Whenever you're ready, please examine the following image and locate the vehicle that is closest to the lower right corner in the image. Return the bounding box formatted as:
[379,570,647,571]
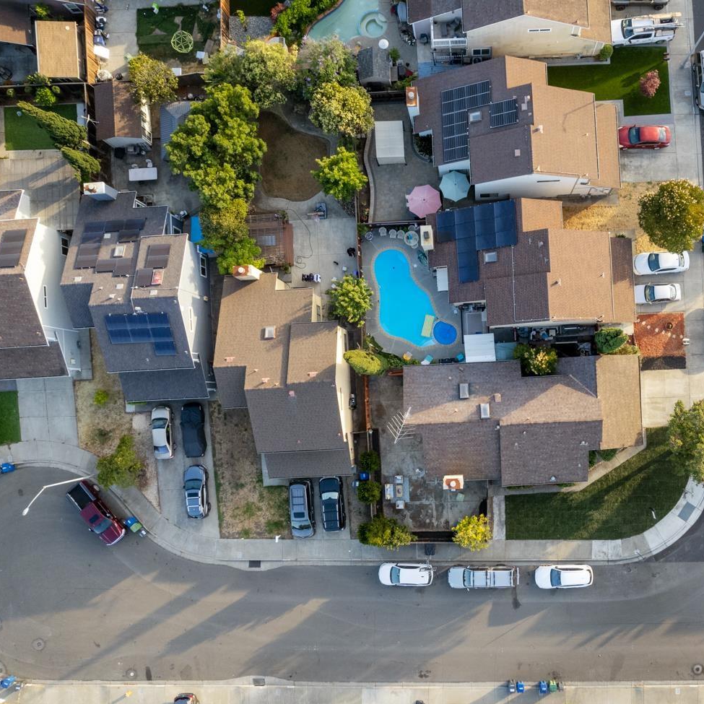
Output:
[534,562,594,592]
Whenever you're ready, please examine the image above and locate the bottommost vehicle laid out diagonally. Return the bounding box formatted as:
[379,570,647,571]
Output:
[67,479,126,546]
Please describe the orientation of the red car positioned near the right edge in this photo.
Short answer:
from left to right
